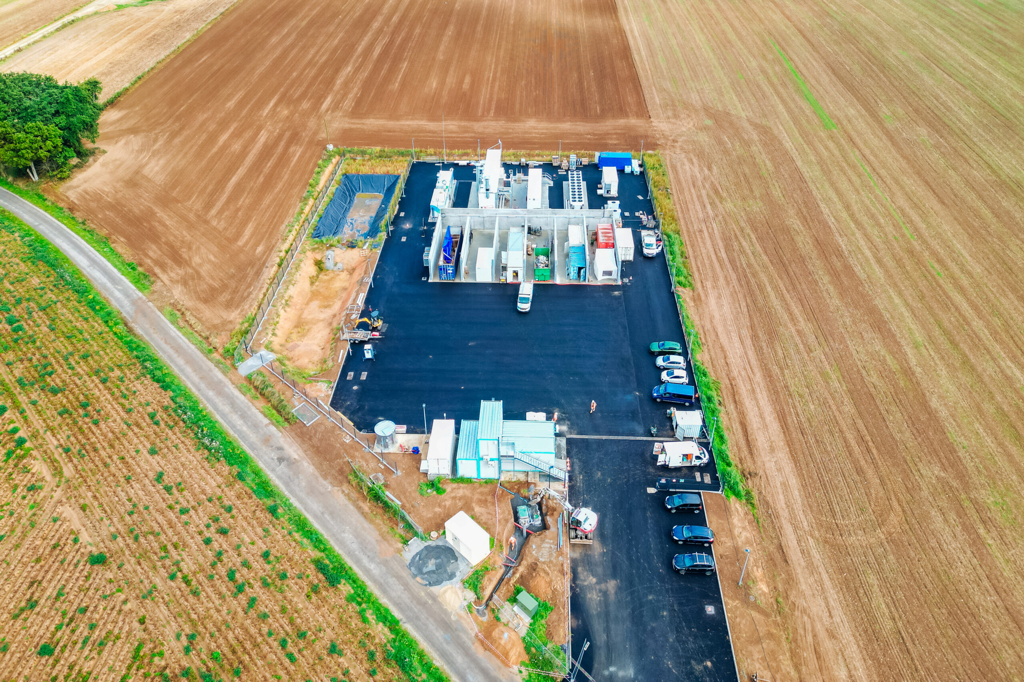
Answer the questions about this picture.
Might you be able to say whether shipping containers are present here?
Yes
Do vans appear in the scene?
Yes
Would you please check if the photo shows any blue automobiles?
Yes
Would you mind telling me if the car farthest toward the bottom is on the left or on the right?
right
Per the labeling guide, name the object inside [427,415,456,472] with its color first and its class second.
white shipping container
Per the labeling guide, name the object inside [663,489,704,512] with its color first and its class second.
blue car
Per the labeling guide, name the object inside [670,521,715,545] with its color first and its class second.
blue car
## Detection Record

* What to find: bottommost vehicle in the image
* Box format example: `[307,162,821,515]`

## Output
[671,548,718,574]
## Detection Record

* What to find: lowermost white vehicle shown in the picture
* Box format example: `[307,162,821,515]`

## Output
[527,486,597,539]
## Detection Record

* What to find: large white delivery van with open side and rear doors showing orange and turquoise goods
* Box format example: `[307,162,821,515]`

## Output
[653,435,706,463]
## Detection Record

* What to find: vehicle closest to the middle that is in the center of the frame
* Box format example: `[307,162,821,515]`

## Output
[517,285,533,313]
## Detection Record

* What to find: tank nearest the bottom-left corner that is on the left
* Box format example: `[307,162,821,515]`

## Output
[376,420,401,454]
